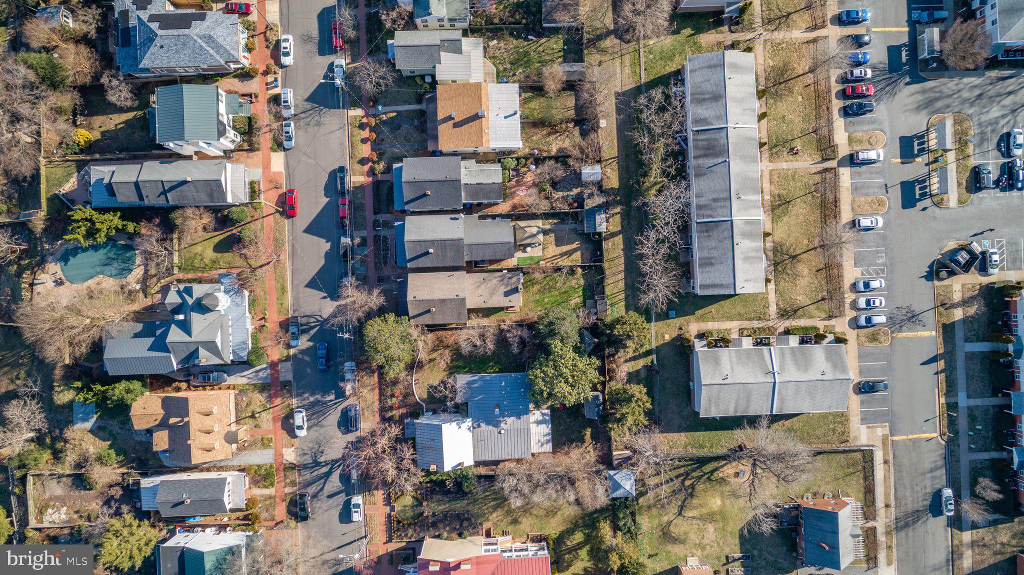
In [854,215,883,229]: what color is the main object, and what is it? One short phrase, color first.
white car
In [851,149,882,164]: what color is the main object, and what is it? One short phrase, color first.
white car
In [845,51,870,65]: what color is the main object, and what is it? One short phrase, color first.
blue car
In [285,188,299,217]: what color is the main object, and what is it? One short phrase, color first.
red car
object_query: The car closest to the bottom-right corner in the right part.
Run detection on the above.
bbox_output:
[939,486,955,516]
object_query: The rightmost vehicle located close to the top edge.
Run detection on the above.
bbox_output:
[916,10,950,24]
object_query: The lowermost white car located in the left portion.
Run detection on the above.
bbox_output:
[349,494,363,522]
